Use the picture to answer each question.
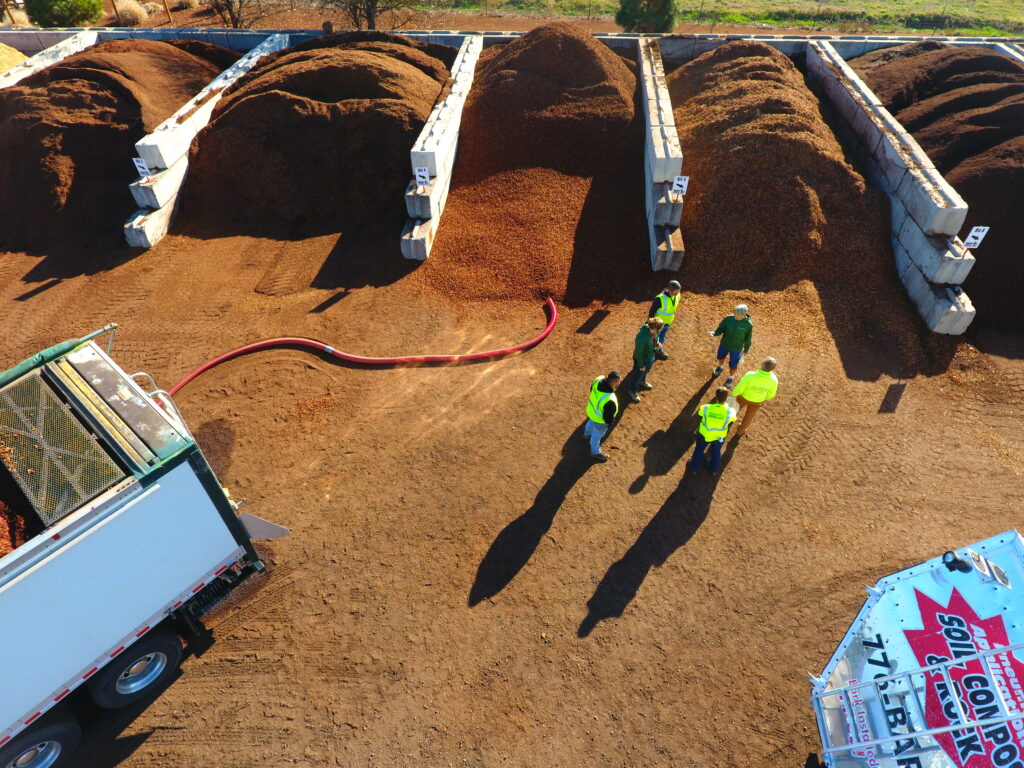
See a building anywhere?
No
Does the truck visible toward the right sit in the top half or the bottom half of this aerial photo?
bottom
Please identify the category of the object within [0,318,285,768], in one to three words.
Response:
trailer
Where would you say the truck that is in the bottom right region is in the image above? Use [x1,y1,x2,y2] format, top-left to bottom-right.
[806,533,1024,768]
